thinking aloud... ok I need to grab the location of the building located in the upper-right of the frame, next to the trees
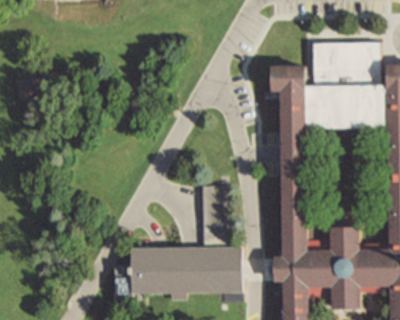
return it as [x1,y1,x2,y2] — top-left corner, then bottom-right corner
[306,42,388,132]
